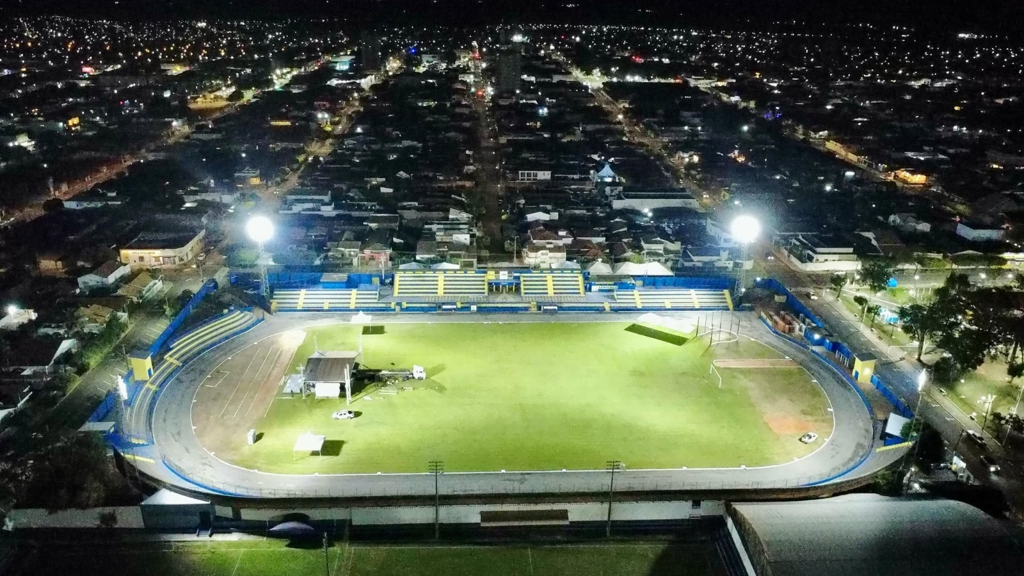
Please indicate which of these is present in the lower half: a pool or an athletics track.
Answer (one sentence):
You can see an athletics track in the lower half.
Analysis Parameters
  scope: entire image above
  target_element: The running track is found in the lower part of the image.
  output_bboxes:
[153,311,873,499]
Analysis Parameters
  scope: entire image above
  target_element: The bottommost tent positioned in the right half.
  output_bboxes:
[637,311,701,345]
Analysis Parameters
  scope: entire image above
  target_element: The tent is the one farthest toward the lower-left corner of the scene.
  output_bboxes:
[291,434,326,460]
